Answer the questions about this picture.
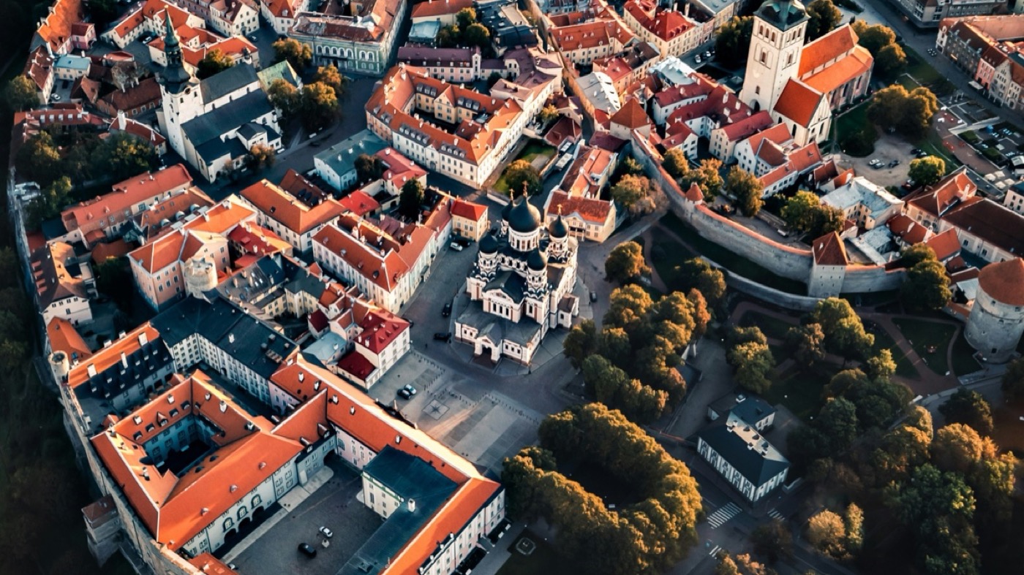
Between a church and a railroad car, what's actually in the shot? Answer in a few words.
church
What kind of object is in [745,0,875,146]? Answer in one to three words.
church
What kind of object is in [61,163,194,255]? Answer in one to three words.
house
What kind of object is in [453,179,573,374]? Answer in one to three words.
church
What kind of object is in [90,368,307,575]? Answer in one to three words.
building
